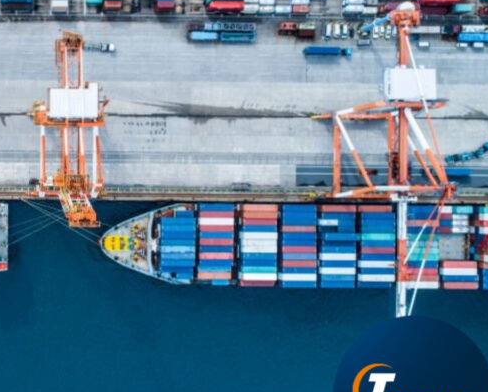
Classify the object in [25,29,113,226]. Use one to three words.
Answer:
container crane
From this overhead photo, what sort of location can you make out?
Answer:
port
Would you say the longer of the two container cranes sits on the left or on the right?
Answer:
right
